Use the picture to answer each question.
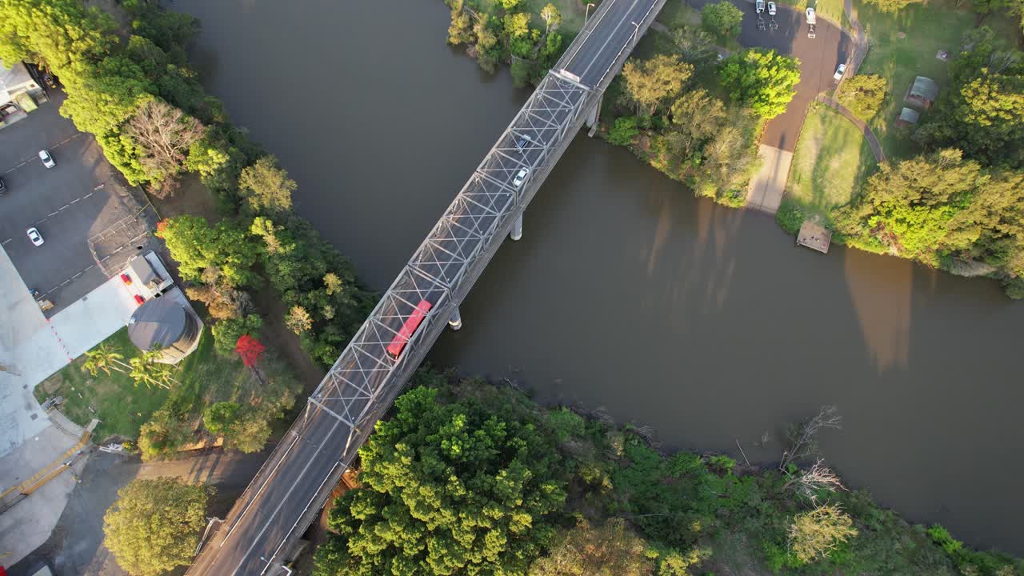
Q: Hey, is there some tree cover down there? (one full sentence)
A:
Yes, there's tree cover in this view.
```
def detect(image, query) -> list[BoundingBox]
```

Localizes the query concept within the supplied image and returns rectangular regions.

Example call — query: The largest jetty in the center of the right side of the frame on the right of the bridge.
[794,218,833,253]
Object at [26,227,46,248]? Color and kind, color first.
white car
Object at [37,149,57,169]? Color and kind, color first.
white car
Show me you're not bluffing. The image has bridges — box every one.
[178,0,667,576]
